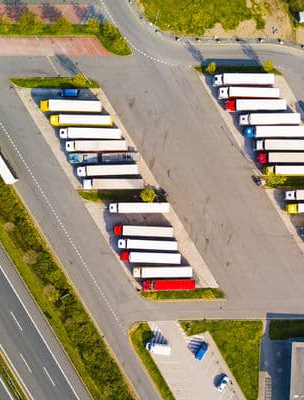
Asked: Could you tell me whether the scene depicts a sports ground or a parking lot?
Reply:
parking lot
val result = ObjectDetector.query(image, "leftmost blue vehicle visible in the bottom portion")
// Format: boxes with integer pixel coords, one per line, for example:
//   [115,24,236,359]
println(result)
[196,339,210,359]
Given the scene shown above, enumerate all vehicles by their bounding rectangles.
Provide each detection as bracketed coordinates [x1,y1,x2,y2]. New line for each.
[284,203,304,214]
[148,341,173,355]
[244,127,304,139]
[67,141,130,152]
[52,114,116,127]
[217,373,231,391]
[264,165,304,177]
[0,145,22,187]
[78,165,142,177]
[71,152,141,164]
[134,265,194,277]
[60,128,124,141]
[84,179,146,190]
[214,74,275,88]
[284,190,304,201]
[63,89,81,98]
[121,251,182,263]
[119,238,179,250]
[110,201,171,213]
[196,339,210,359]
[218,87,280,101]
[257,153,304,164]
[144,278,196,290]
[239,114,300,127]
[255,140,304,152]
[42,100,105,114]
[115,224,175,237]
[226,100,286,112]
